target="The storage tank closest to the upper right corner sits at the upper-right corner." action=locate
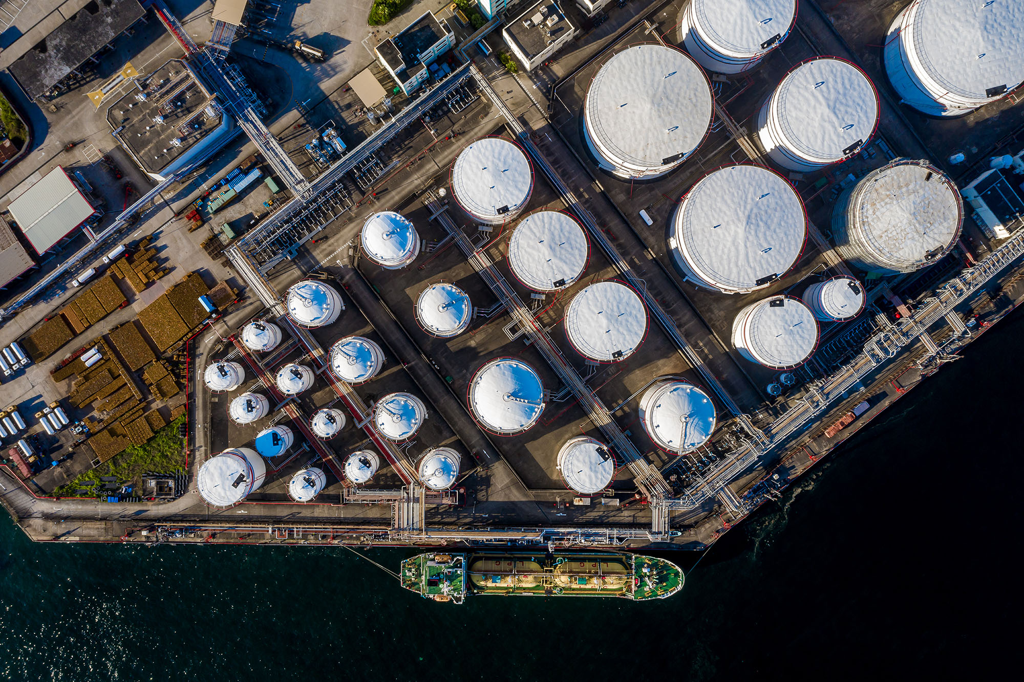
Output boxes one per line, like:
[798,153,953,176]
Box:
[866,0,1024,123]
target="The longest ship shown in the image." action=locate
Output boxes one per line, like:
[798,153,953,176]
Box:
[401,550,685,605]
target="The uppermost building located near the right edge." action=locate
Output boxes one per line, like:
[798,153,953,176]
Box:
[961,170,1024,240]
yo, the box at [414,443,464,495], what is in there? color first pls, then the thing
white storage tank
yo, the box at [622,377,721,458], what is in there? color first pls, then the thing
white storage tank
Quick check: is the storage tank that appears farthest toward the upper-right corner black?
No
